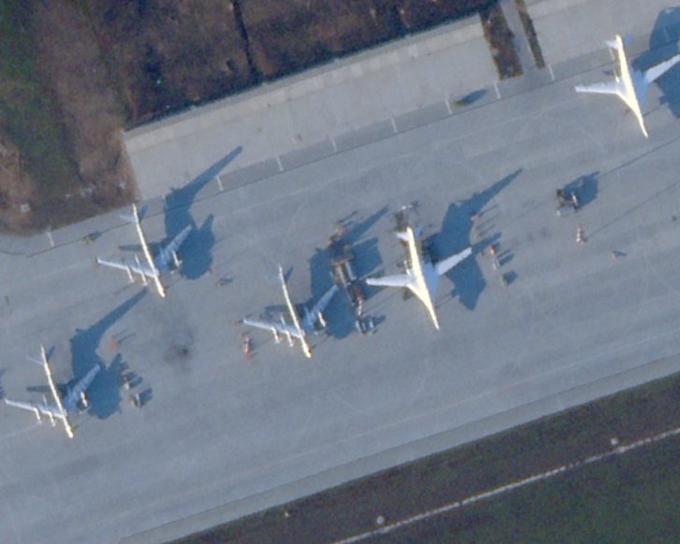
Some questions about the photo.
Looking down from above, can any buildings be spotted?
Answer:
No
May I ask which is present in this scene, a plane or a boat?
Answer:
plane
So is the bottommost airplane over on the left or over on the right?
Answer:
left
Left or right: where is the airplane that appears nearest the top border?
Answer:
right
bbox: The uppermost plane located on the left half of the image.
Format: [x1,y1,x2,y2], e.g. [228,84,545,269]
[100,207,194,297]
